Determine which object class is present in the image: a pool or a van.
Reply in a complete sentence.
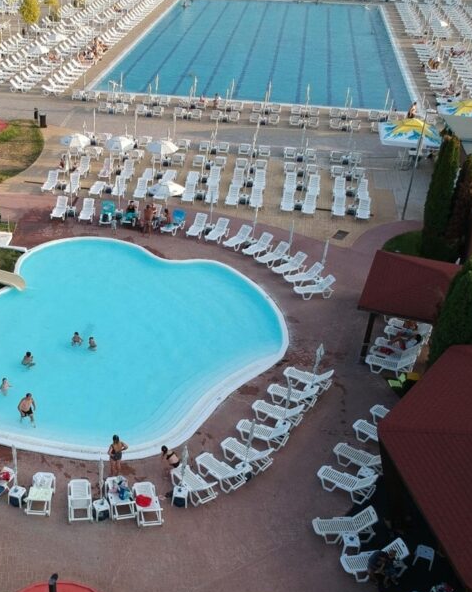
The one in the frame is a pool.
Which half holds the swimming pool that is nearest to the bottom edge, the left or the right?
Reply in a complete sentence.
It is on the left.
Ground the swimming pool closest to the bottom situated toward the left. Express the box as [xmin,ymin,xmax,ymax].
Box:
[0,240,284,442]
